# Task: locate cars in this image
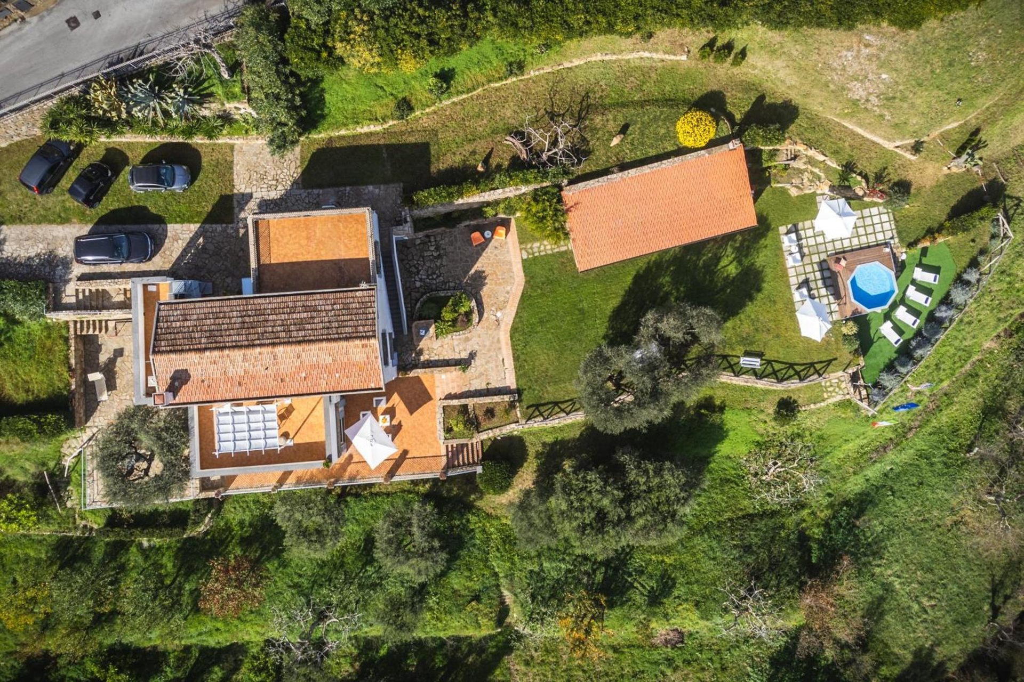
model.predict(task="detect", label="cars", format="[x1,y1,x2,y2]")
[70,229,157,266]
[125,160,195,193]
[17,137,81,198]
[65,157,119,214]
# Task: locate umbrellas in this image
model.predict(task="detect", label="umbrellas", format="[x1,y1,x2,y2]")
[813,196,856,241]
[794,300,831,339]
[347,412,399,467]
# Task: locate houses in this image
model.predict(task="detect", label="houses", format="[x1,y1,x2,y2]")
[558,139,758,273]
[128,203,403,475]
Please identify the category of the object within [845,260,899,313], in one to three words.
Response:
swimming pool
